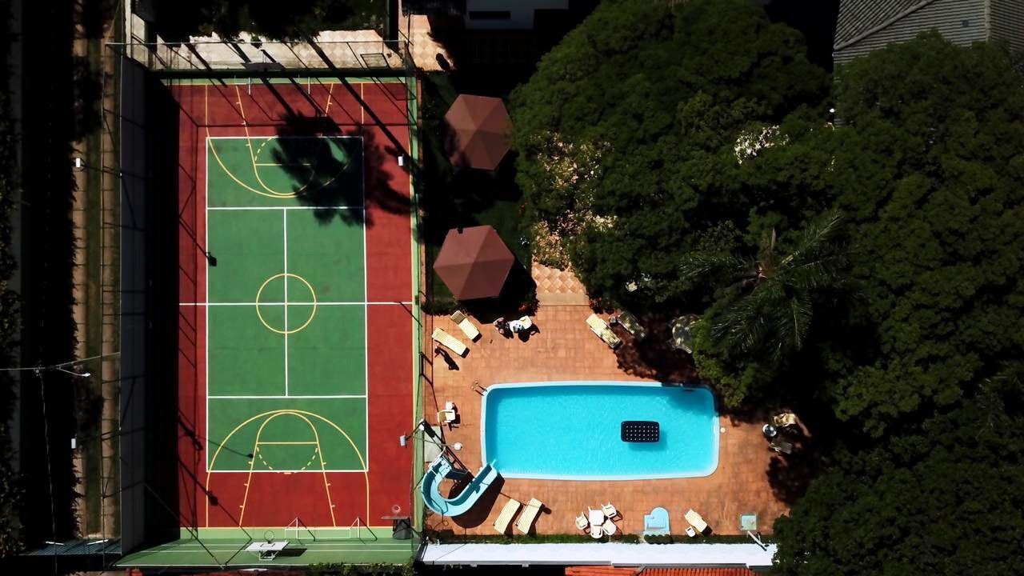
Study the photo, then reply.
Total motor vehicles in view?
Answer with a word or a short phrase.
0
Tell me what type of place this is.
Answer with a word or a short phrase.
sports ground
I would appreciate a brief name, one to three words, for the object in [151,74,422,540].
sports court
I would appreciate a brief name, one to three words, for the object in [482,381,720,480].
swimming pool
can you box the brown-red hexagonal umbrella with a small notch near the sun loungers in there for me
[433,226,516,300]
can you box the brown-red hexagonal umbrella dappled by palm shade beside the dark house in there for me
[439,100,518,171]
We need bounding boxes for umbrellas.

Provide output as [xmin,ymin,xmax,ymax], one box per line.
[439,100,518,171]
[433,226,516,300]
